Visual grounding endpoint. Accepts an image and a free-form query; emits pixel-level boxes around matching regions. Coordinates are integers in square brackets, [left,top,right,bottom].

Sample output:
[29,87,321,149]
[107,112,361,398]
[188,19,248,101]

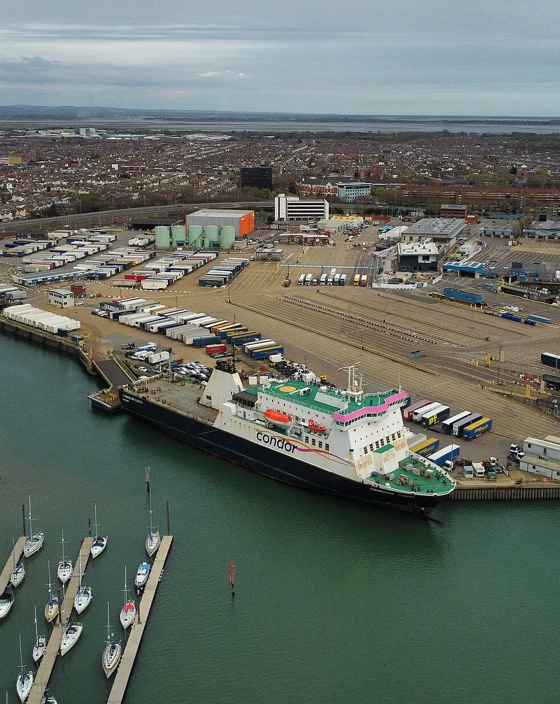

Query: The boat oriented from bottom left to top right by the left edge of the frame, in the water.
[0,590,18,616]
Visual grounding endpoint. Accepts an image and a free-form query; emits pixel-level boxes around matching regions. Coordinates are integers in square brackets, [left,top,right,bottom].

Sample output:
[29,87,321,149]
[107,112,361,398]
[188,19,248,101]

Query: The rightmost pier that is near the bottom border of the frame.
[107,535,172,704]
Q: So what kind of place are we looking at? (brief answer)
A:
port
